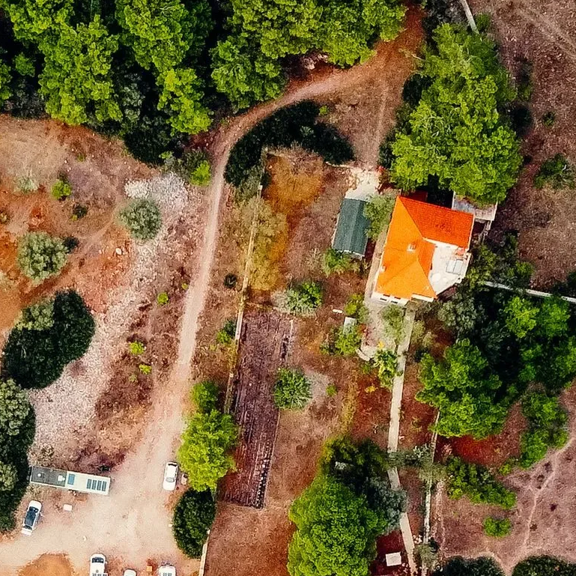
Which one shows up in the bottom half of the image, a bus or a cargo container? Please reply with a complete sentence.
The feature located in the bottom half of the image is a bus.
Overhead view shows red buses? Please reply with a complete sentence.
No, no red bus can be seen from above.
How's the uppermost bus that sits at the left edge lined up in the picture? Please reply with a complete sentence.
The uppermost bus that sits at the left edge has been laid out from left to right relative to the frame.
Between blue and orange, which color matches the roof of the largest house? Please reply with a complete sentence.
The roof of the largest house is orange.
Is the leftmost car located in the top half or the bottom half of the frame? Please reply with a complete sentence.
Seen from above, the leftmost car lies in the bottom half of the view.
